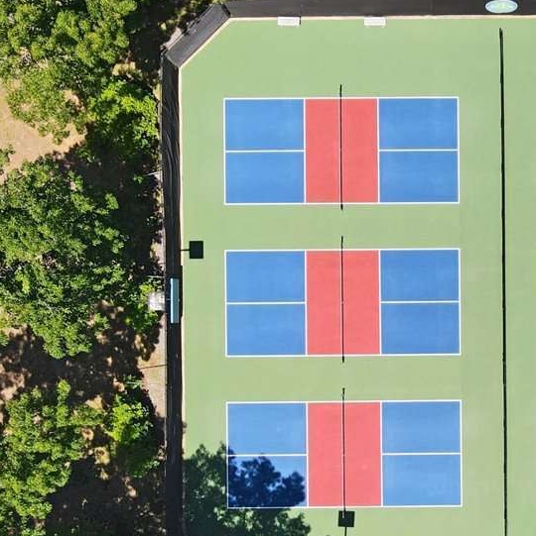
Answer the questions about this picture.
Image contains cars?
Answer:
No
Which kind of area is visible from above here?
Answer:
sports ground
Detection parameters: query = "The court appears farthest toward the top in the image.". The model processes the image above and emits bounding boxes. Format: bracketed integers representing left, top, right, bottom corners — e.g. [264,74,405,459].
[223,97,459,206]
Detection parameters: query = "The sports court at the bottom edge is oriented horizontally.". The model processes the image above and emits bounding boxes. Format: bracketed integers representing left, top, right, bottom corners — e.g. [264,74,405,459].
[227,400,463,510]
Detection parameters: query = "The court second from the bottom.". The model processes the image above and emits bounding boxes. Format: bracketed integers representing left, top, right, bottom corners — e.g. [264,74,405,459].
[224,248,460,357]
